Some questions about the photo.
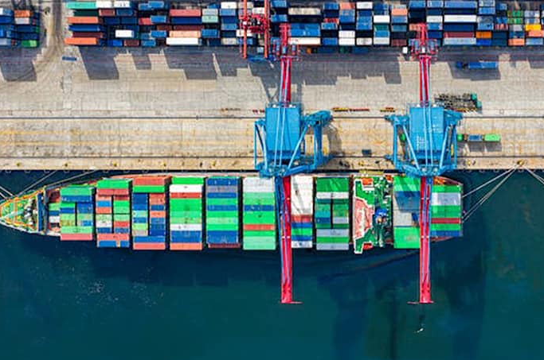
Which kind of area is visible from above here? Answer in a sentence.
The area seen from above is a port.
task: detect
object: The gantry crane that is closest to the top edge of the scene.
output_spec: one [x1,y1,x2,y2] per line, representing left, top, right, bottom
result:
[239,0,281,62]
